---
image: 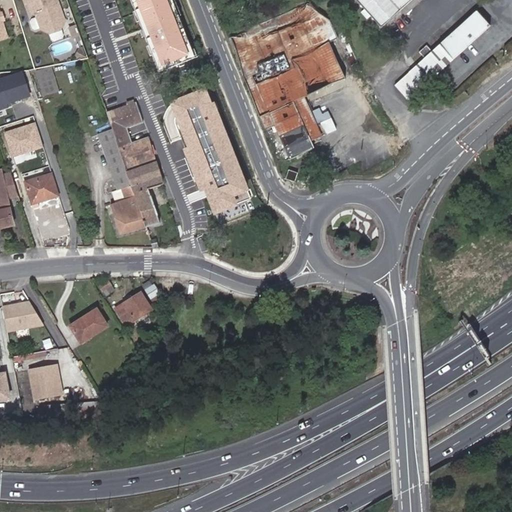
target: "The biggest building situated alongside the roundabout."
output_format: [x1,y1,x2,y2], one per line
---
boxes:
[232,4,345,160]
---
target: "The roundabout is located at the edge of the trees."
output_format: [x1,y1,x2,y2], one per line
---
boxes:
[298,180,411,440]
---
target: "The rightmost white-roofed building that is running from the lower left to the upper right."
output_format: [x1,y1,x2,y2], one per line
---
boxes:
[441,10,491,62]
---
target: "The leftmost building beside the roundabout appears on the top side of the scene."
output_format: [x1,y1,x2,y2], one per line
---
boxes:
[164,90,254,221]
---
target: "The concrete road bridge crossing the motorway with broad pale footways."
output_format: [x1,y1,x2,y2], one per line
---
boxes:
[383,310,430,512]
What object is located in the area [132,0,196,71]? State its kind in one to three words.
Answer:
building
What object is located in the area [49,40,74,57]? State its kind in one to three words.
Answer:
swimming pool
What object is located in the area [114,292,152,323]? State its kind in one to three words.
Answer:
house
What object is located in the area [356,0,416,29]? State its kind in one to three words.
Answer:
building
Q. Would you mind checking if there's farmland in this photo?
No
